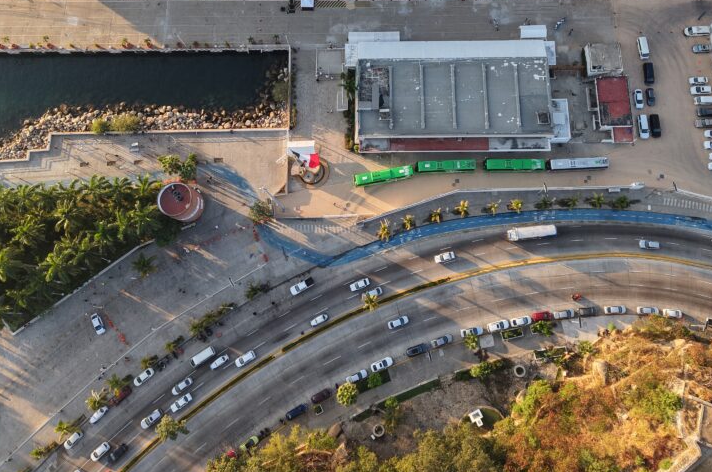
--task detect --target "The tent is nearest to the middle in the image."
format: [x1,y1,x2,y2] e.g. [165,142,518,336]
[288,141,316,157]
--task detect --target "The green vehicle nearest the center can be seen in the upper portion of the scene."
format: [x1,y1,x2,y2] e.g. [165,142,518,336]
[352,162,415,188]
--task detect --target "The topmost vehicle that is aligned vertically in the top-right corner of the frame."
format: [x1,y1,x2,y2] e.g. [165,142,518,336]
[638,34,650,60]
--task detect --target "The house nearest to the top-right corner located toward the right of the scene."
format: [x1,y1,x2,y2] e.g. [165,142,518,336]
[582,42,624,80]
